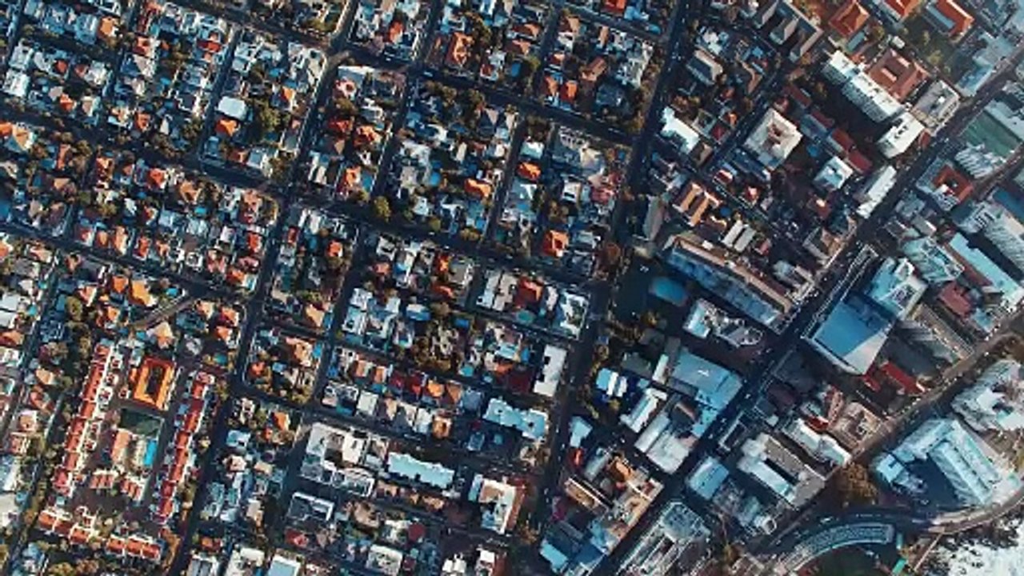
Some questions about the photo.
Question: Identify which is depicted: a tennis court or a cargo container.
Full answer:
It is a tennis court that can be seen here.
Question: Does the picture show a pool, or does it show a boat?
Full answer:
Visible in the photo is a pool.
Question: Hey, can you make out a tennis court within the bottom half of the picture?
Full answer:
Yes, I can see a tennis court within the bottom half of the picture.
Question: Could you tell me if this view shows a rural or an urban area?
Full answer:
The area shown here is urban.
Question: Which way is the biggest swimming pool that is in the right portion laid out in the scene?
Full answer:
From this overhead view, the biggest swimming pool that is in the right portion appears to run on a diagonal.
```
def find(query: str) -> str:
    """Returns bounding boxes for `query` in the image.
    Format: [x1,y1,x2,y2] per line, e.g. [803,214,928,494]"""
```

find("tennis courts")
[967,111,1018,159]
[119,401,164,434]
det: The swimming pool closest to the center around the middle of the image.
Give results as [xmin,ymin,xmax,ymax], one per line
[515,309,534,322]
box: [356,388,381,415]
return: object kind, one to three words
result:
house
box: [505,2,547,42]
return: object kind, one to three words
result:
house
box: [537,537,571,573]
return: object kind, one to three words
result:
building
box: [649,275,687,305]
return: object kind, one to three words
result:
swimming pool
